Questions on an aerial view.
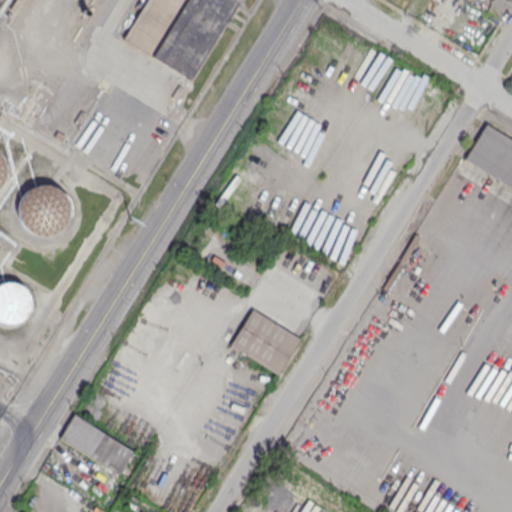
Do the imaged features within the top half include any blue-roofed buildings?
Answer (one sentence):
No, the scene shows no blue-roofed building within the top half.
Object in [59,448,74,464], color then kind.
white vehicle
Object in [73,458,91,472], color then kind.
white vehicle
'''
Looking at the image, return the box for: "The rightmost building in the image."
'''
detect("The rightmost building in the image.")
[463,122,512,188]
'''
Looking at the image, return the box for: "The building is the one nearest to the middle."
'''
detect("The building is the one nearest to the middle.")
[229,308,303,377]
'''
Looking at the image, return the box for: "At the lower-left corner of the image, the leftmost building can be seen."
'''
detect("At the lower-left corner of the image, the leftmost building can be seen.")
[61,414,106,458]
